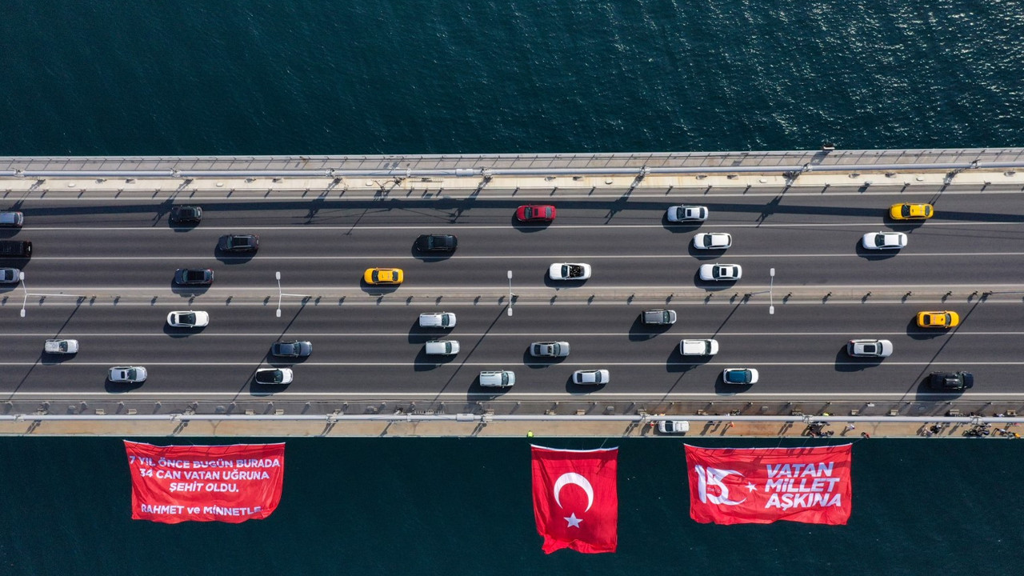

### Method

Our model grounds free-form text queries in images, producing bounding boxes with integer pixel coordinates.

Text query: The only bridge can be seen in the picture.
[0,148,1024,439]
